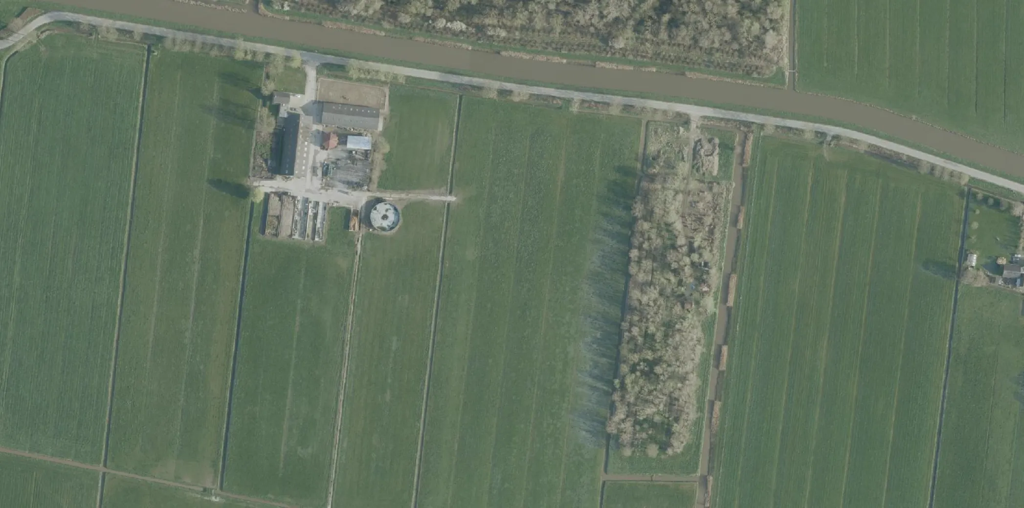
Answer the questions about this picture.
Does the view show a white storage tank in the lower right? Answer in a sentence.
No, no white storage tank is visible in the lower right.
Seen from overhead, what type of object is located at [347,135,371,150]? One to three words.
shed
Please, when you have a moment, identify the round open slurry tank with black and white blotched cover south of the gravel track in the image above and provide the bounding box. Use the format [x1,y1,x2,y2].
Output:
[370,203,399,232]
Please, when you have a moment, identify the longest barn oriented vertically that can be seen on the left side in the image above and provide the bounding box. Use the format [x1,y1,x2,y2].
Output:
[280,112,313,178]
